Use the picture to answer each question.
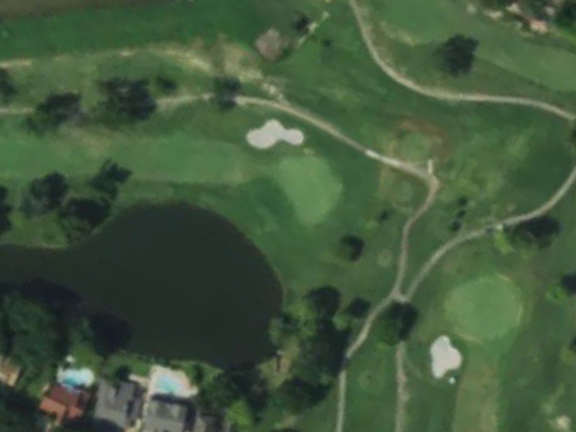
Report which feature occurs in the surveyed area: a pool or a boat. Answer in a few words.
pool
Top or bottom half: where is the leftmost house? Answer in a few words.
bottom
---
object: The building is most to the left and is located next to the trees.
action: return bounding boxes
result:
[0,359,21,387]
